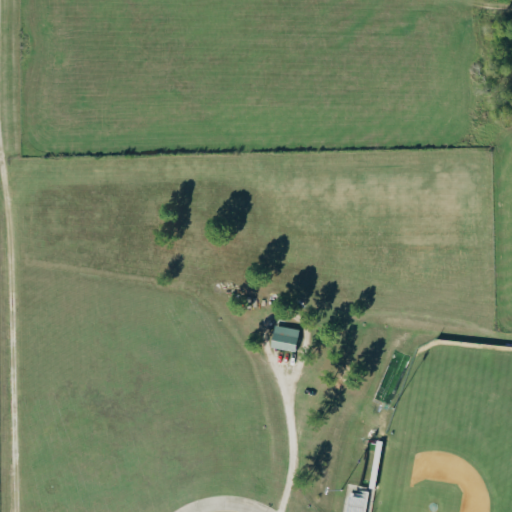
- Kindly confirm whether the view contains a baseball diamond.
Yes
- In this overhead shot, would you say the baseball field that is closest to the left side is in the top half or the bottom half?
bottom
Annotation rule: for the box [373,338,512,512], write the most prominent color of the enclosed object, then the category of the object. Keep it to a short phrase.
green baseball field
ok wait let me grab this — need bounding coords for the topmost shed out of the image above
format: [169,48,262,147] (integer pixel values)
[272,326,300,352]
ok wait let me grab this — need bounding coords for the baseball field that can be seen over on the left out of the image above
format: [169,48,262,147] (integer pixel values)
[20,262,277,512]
